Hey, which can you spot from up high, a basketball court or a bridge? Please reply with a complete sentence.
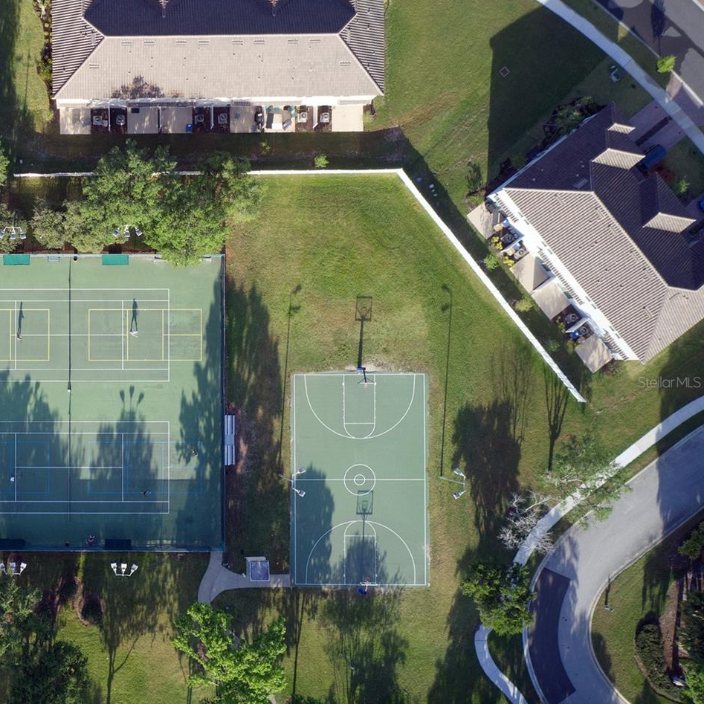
Visible in the photo is a basketball court.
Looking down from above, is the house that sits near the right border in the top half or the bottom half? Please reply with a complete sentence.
Seen from above, the house that sits near the right border lies in the top half of the view.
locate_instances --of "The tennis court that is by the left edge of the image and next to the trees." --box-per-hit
[0,258,222,547]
